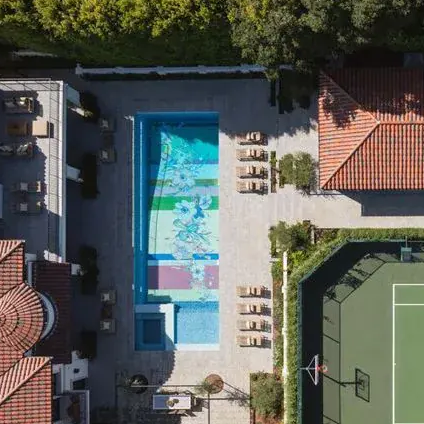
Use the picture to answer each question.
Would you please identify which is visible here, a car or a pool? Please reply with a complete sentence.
Visible in the photo is a pool.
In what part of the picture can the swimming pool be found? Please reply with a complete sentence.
The swimming pool is in the center part of the image.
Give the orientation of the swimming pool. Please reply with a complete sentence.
What the image shows is the swimming pool lying from top to bottom.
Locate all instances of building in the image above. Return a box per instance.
[319,65,424,190]
[0,79,93,424]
